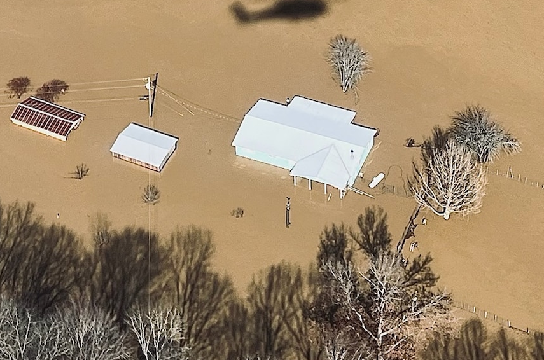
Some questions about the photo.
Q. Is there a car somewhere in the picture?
No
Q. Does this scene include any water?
Yes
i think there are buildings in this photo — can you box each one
[8,97,87,141]
[107,123,181,173]
[230,95,377,198]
